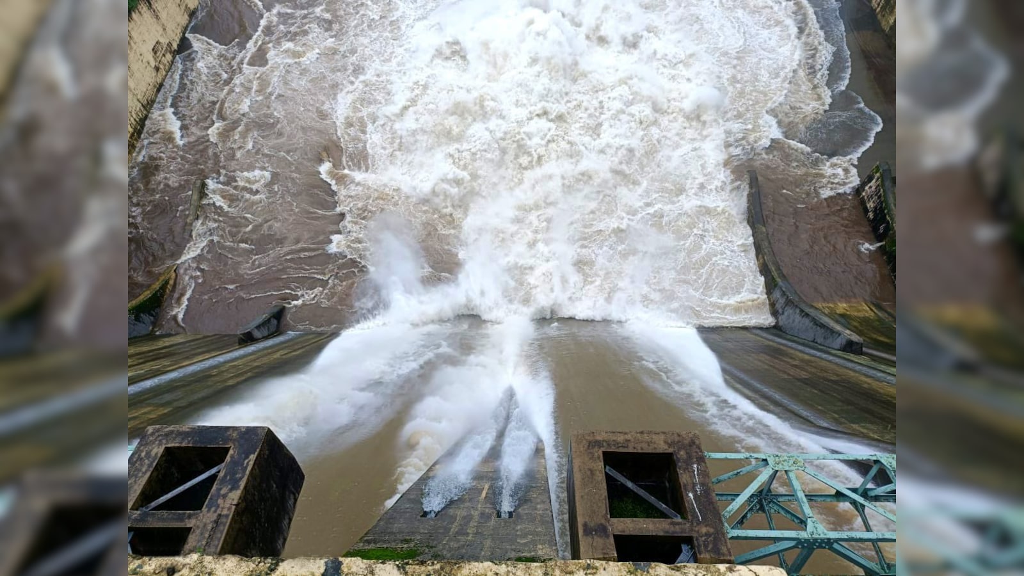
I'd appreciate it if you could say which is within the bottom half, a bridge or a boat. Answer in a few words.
bridge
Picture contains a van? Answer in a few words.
No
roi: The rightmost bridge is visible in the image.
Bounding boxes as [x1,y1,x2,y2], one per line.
[702,450,1024,576]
